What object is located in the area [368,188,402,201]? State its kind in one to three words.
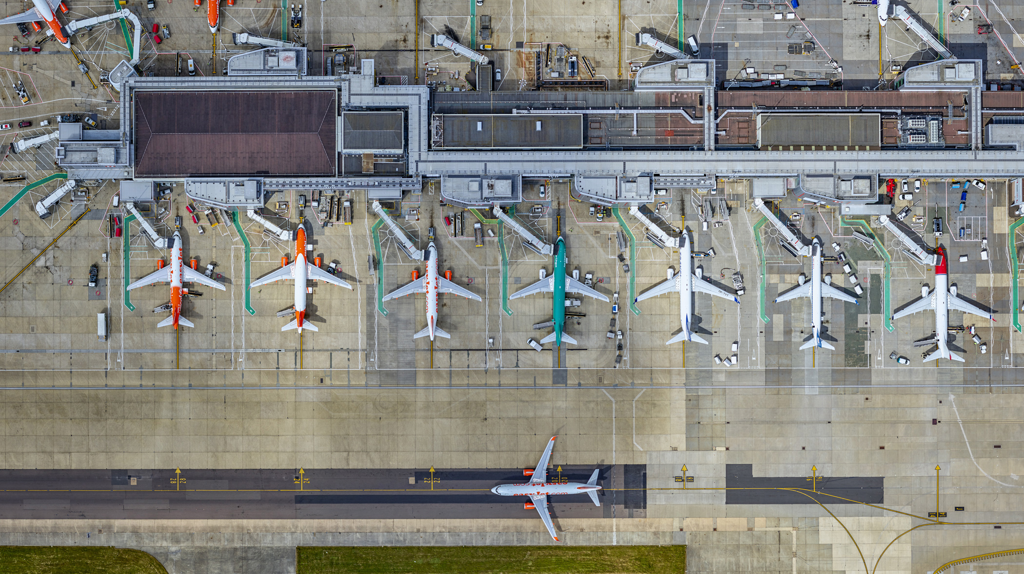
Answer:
shed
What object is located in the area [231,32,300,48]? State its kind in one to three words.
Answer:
jet bridge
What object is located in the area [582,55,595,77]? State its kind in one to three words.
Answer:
vehicle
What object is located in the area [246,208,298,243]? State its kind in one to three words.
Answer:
jet bridge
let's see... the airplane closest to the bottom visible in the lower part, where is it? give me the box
[491,438,603,541]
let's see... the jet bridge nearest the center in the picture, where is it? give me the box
[492,206,558,257]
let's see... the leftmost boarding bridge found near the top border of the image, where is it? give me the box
[62,6,144,69]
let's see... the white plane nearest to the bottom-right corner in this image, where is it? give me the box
[890,247,997,363]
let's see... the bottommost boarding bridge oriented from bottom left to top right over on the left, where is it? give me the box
[36,178,81,220]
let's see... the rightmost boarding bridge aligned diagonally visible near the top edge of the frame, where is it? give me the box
[887,4,961,59]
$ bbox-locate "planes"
[491,438,603,541]
[0,0,74,47]
[512,236,610,346]
[384,241,481,340]
[878,0,890,26]
[632,230,738,345]
[890,247,997,363]
[252,223,350,333]
[776,238,860,349]
[126,231,225,329]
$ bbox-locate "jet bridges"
[231,32,300,48]
[371,202,429,262]
[429,34,491,64]
[1011,206,1024,221]
[246,208,298,243]
[36,178,81,220]
[748,200,818,258]
[62,6,144,69]
[874,215,942,267]
[11,128,60,155]
[633,33,697,59]
[887,4,961,59]
[492,206,558,257]
[124,201,173,250]
[628,205,685,249]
